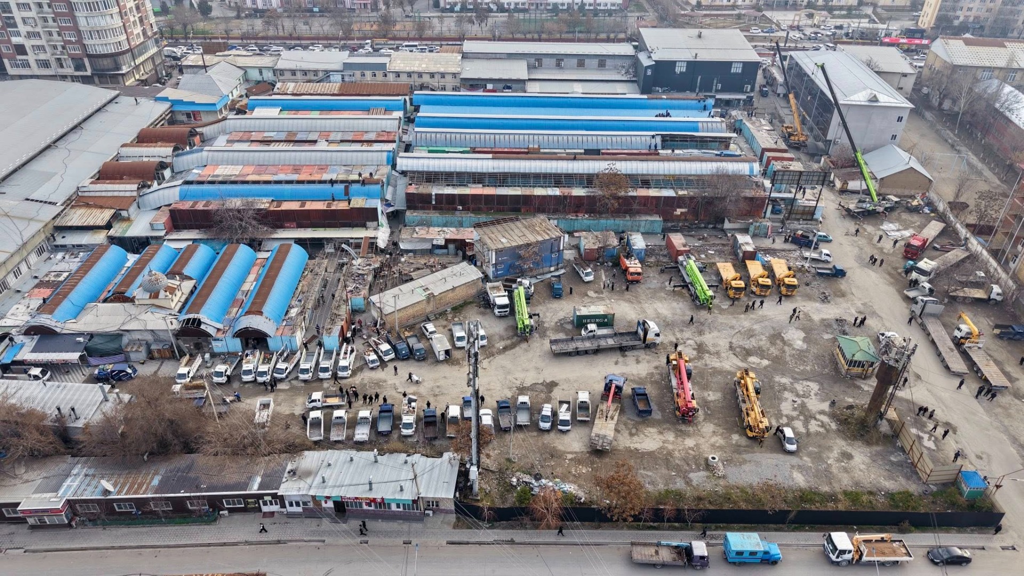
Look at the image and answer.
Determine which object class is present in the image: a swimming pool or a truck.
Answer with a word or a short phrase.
truck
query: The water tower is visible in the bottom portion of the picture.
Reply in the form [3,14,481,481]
[863,324,926,423]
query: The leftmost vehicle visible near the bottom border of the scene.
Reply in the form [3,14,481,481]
[628,528,715,568]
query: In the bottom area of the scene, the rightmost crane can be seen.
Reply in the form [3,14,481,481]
[730,355,773,444]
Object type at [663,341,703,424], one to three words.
crane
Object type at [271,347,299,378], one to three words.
truck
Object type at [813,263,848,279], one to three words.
vehicle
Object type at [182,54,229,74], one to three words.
building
